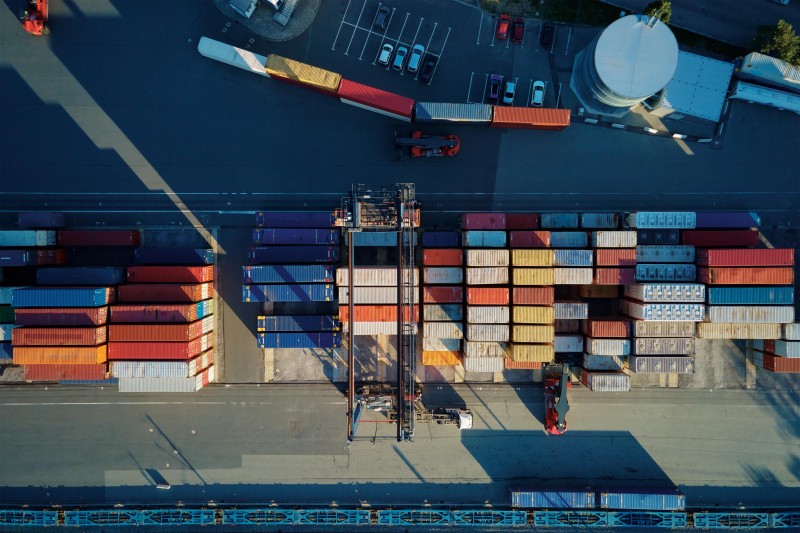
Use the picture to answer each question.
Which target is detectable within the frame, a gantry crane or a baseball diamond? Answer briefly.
gantry crane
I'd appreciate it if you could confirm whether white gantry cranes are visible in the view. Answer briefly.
No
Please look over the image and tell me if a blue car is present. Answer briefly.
Yes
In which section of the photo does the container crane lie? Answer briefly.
center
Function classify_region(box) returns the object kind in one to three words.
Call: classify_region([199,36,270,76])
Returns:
shipping container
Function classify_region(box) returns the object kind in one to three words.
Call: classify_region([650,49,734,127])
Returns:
building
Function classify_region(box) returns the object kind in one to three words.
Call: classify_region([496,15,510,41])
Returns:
car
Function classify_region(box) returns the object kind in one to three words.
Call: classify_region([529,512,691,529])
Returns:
rail car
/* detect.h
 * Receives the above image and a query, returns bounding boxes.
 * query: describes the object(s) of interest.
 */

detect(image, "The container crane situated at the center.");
[334,174,423,442]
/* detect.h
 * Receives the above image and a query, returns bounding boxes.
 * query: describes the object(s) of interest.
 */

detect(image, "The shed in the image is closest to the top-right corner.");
[734,52,800,95]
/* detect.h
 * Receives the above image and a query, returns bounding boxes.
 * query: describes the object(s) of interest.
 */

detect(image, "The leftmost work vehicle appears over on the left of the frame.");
[21,0,55,38]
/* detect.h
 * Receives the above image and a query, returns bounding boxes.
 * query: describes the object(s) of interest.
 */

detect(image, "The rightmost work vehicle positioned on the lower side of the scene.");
[542,367,573,435]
